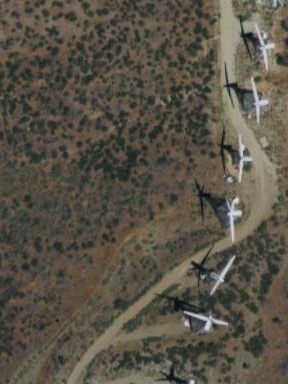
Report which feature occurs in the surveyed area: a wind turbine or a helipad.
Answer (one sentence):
It is a wind turbine that can be seen here.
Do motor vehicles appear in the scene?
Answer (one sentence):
No, there isn't any motor vehicle down there.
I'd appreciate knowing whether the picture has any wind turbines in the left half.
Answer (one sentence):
No, in the left half there is no wind turbine.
